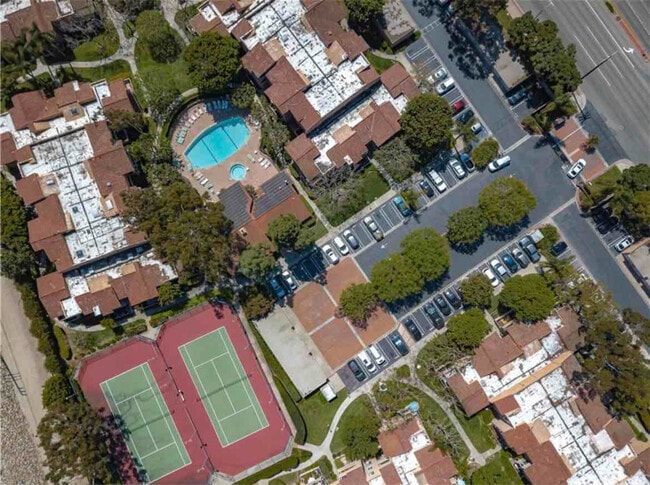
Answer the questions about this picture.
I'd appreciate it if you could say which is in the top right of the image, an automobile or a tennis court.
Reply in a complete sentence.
What appears in the top right of the image is an automobile.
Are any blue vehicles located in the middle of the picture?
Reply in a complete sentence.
Yes, in the middle of the picture there is a blue vehicle.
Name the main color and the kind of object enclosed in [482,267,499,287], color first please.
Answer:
white car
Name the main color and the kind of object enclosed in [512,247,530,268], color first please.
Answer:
gray car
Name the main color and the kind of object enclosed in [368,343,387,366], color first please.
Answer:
white vehicle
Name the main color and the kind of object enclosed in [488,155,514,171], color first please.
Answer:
white vehicle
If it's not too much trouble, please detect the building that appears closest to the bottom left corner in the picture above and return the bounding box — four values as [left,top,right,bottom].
[36,255,177,321]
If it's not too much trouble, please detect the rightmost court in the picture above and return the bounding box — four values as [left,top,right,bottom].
[156,303,291,476]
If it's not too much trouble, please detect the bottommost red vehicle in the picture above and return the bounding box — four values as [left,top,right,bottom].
[448,97,468,113]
